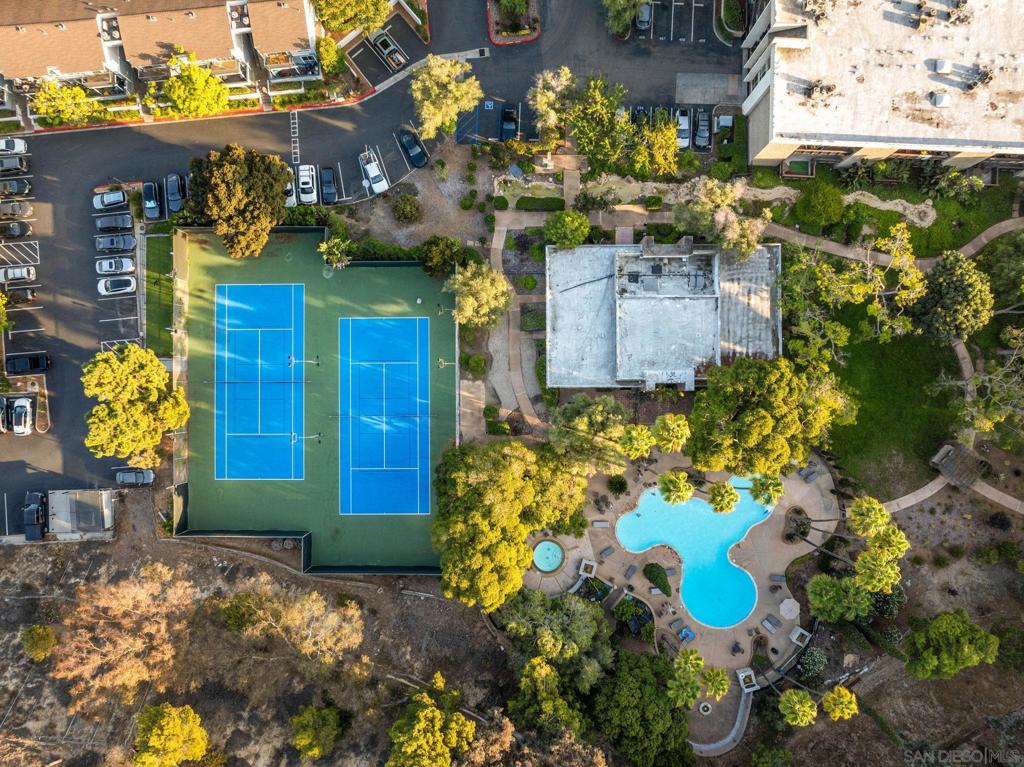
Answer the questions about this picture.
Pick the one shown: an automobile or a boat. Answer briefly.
automobile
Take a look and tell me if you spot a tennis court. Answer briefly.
Yes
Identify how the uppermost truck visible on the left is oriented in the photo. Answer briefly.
diagonally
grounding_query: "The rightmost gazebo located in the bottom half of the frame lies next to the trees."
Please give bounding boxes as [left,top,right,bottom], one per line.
[923,439,986,494]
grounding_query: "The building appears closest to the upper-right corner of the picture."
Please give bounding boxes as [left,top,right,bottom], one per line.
[735,0,1024,158]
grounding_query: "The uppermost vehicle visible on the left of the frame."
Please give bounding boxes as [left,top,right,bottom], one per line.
[369,26,405,67]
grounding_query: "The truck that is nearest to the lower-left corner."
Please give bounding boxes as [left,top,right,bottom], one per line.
[21,493,46,539]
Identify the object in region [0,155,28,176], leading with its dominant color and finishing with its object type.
gray car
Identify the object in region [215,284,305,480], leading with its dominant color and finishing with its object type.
blue tennis court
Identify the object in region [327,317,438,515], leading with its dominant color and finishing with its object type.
blue tennis court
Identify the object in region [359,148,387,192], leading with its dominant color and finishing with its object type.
white truck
